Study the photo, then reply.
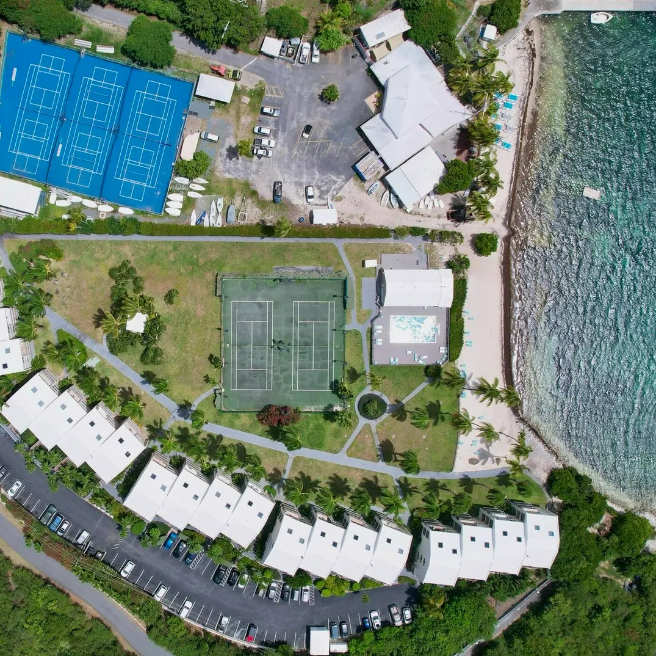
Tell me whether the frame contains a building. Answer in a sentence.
Yes, the photo shows a building.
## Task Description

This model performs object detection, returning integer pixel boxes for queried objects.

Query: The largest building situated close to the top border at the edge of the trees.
[350,30,474,171]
